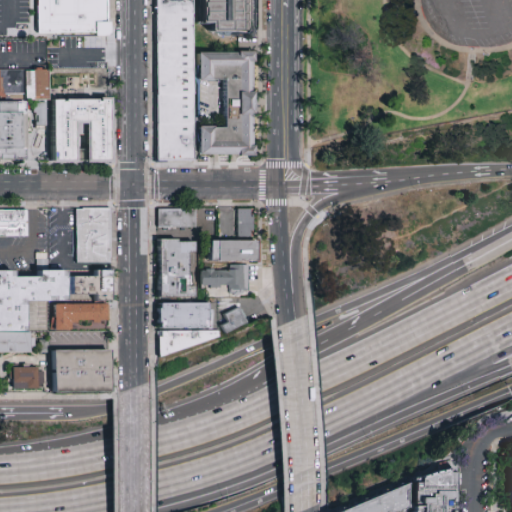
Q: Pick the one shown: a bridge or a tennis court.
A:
bridge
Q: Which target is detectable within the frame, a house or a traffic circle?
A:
house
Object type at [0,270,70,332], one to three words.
building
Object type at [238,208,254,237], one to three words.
building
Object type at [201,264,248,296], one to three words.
house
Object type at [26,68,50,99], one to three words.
house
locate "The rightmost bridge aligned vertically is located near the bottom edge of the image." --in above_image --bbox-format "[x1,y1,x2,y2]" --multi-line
[271,314,326,506]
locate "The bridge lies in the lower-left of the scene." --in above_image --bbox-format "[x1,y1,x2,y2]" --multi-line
[113,380,158,512]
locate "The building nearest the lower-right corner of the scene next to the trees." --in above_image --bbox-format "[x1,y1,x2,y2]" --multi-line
[418,468,462,512]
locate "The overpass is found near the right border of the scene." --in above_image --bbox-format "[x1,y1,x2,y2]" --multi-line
[466,236,512,273]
